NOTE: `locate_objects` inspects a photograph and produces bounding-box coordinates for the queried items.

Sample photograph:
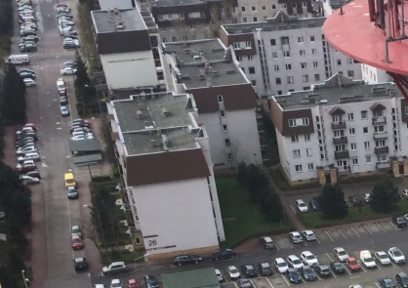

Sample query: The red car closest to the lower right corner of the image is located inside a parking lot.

[344,255,361,271]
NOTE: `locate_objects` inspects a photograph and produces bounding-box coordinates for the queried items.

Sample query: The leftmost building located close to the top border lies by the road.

[83,0,166,95]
